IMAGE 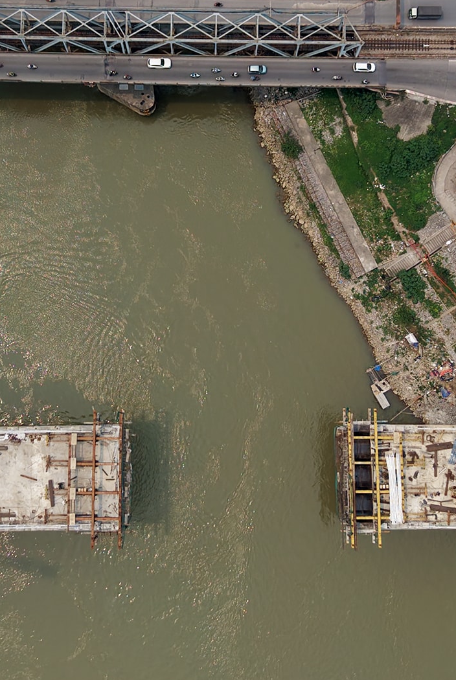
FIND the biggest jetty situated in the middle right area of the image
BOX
[366,370,390,409]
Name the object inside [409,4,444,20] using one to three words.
vehicle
